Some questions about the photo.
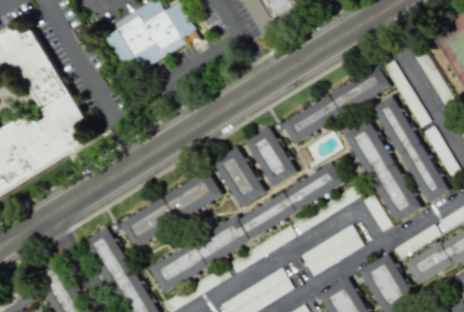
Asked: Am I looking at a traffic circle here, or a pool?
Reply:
pool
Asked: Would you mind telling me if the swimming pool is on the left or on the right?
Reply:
right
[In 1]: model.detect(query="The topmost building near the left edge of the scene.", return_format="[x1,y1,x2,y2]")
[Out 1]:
[0,29,91,196]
